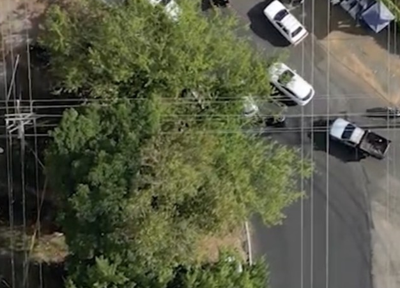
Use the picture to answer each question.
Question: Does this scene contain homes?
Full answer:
No, the photo shows no home.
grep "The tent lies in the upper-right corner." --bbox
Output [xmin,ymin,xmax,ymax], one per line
[353,0,395,37]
